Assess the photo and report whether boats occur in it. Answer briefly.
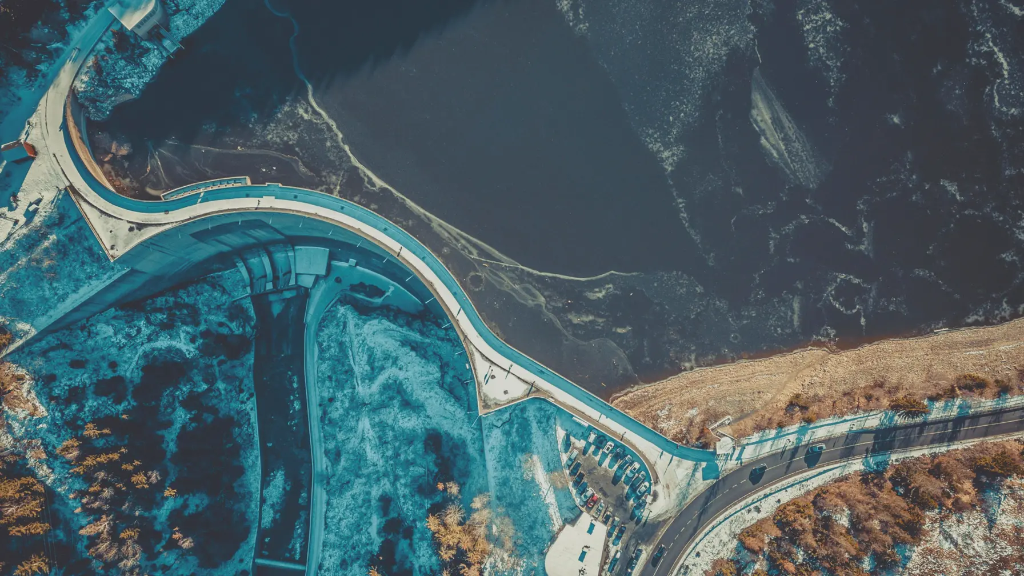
No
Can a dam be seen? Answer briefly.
Yes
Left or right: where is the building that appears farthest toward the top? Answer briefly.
left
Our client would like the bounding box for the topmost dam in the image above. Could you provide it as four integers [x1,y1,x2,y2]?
[61,15,717,495]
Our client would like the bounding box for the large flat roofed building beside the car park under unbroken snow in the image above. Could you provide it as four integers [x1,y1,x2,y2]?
[545,510,607,576]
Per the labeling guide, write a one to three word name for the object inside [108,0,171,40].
building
